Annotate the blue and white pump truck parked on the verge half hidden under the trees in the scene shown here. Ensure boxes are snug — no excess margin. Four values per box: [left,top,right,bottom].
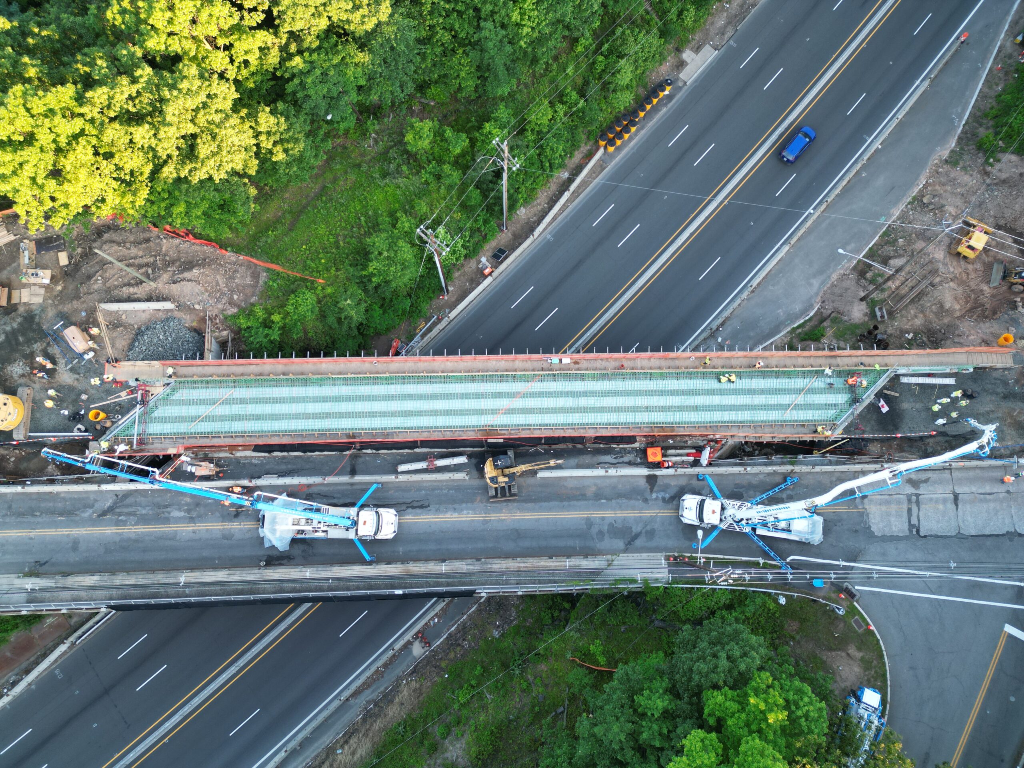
[832,679,890,768]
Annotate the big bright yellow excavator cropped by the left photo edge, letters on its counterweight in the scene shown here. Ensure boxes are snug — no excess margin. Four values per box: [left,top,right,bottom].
[0,387,36,440]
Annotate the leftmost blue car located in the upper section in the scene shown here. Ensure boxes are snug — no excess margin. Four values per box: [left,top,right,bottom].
[779,128,816,169]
